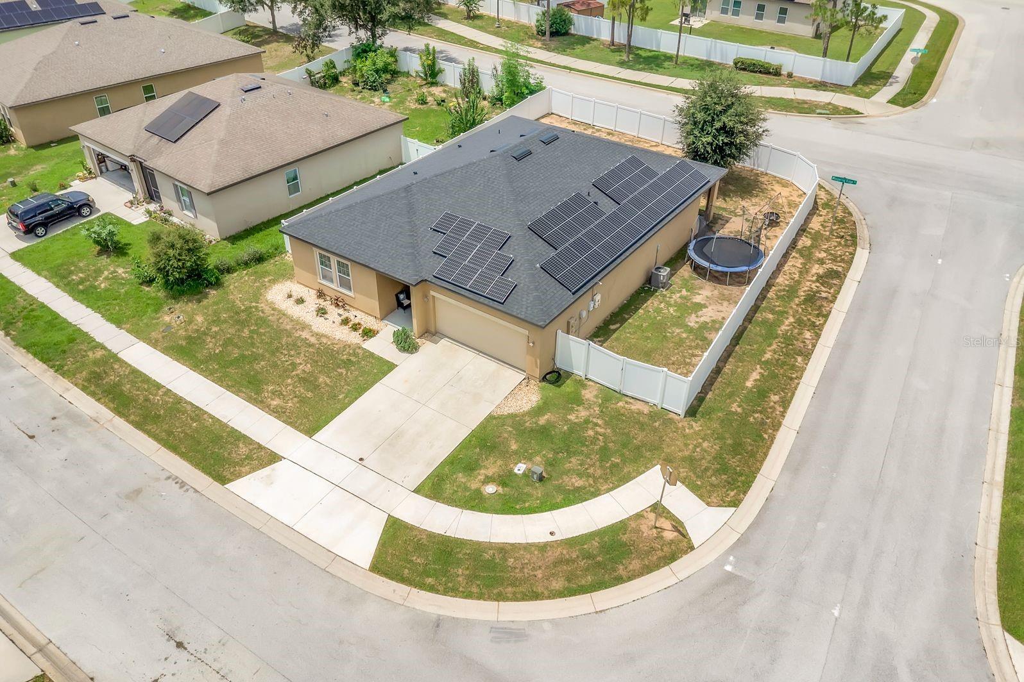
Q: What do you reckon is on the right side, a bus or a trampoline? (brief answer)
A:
trampoline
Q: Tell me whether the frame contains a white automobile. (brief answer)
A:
No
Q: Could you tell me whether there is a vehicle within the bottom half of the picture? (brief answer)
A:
No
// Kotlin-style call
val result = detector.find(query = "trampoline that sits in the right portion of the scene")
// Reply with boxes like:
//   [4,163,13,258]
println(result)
[686,207,770,284]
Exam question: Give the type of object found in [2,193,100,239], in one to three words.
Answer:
car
